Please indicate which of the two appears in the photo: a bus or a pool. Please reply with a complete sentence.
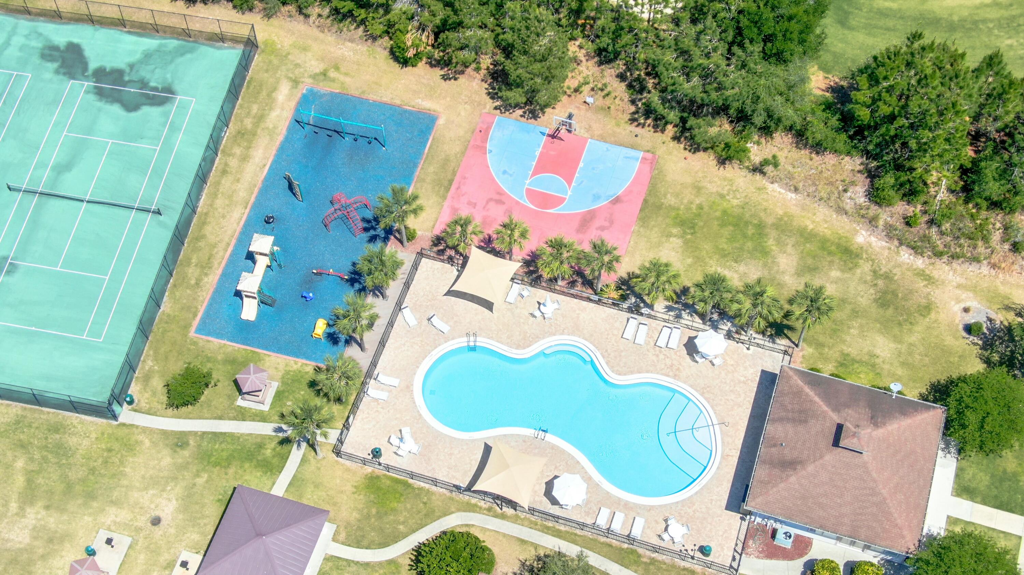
There is a pool in the scene.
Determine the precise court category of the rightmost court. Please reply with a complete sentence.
I'd say the rightmost court is a basketball court.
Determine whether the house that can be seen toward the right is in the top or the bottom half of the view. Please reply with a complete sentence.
The house that can be seen toward the right sits in the bottom half of the picture.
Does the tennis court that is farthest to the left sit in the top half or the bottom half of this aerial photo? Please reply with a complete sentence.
It is in the top half that the tennis court that is farthest to the left appears.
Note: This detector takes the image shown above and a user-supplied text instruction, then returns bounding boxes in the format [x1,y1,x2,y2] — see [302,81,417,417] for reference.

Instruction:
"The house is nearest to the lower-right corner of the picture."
[742,363,948,563]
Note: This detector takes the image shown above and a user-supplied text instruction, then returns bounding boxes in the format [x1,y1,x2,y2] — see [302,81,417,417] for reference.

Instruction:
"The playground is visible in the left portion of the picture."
[190,82,441,373]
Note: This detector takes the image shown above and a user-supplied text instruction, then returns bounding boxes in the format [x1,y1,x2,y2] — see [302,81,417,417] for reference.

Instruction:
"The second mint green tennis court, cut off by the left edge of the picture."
[0,8,77,189]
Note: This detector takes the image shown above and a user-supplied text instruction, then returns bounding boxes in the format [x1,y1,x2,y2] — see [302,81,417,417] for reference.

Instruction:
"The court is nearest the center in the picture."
[433,112,658,281]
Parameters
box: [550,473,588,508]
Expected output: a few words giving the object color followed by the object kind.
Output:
white umbrella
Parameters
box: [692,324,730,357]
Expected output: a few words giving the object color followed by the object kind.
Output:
white umbrella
